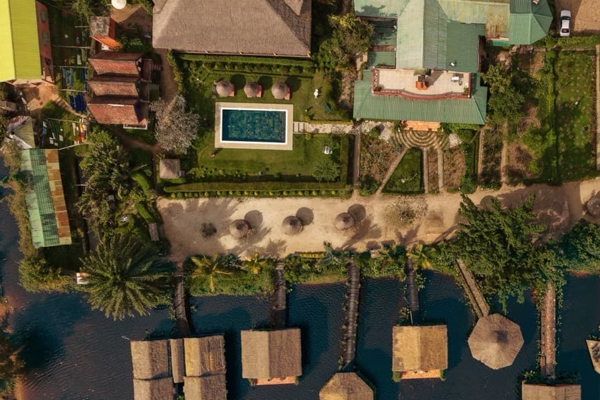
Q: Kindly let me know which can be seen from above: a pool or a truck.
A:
pool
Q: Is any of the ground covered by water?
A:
Yes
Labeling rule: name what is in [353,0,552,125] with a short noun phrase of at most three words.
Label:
building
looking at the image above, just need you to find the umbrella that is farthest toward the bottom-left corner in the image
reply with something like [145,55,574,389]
[231,217,251,238]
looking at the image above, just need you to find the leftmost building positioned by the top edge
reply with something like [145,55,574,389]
[0,0,62,89]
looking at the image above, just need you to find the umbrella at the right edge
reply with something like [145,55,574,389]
[585,196,600,216]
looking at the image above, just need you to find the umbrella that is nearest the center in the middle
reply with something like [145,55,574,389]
[282,214,303,235]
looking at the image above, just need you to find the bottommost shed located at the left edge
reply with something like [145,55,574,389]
[21,150,79,247]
